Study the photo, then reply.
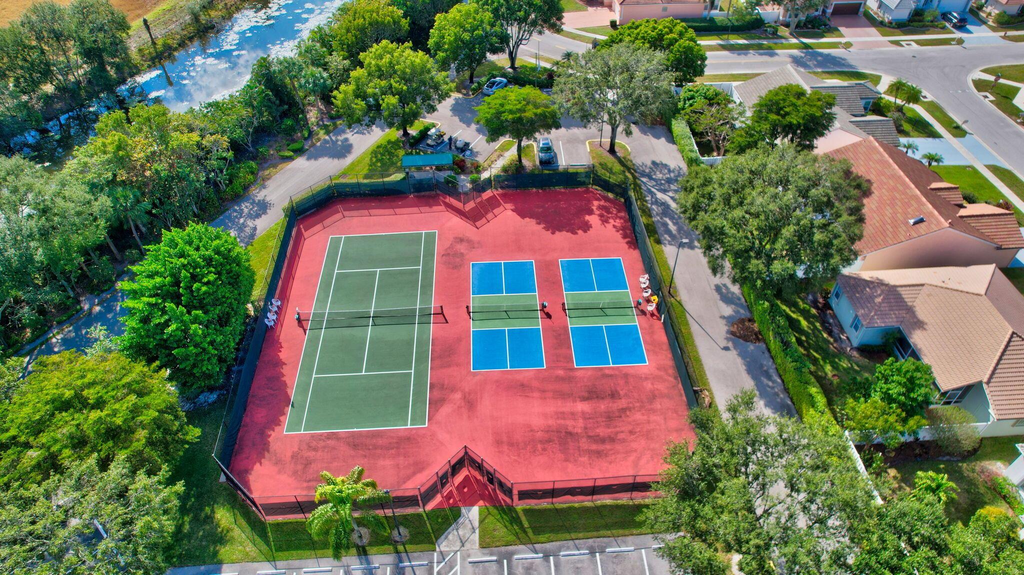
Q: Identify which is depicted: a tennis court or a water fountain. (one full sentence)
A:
This aerial view contains a tennis court.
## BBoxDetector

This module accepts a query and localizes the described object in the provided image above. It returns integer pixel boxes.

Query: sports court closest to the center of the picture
[471,260,545,371]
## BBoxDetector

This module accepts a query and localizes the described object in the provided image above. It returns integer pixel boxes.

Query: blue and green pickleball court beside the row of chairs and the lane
[559,257,648,367]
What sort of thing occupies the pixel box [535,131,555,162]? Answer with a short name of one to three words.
car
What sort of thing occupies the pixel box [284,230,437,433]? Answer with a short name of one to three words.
tennis court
